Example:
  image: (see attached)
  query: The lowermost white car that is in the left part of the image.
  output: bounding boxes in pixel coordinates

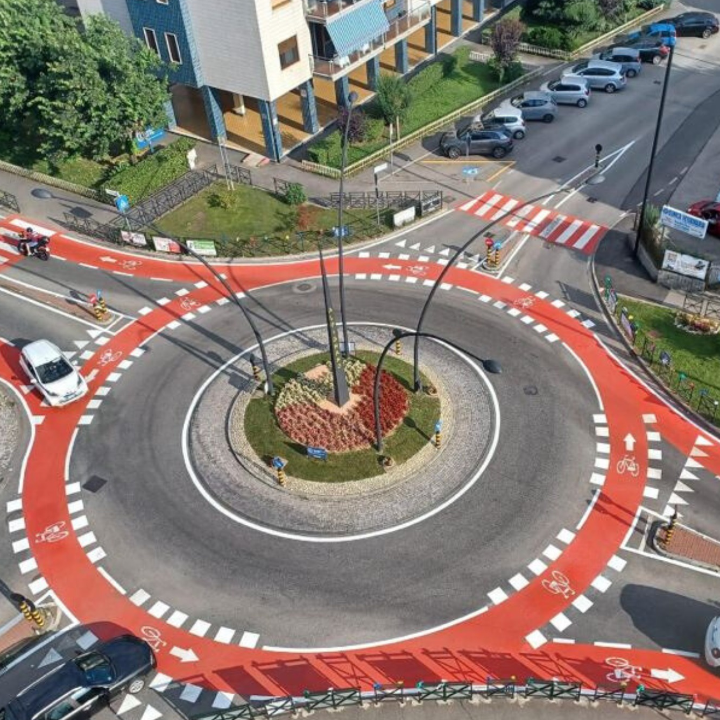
[14,324,85,397]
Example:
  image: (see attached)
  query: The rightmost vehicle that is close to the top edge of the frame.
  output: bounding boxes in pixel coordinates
[660,8,720,38]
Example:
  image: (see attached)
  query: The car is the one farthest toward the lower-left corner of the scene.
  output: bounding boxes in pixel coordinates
[0,633,162,720]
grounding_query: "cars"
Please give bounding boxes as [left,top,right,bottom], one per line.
[461,103,534,139]
[534,72,594,107]
[494,87,563,123]
[687,203,720,235]
[586,42,643,76]
[549,56,627,93]
[611,31,670,64]
[620,17,683,49]
[660,8,720,38]
[0,633,162,720]
[14,324,85,397]
[437,117,516,158]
